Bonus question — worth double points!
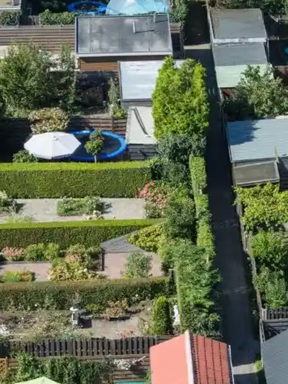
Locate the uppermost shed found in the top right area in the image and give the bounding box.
[209,8,265,70]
